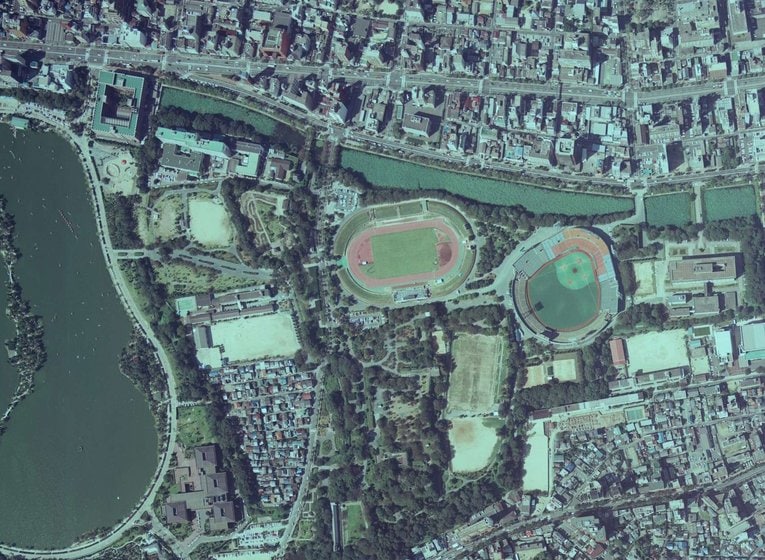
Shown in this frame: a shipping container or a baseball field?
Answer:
baseball field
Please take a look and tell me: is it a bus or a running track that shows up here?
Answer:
running track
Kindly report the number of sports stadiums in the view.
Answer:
2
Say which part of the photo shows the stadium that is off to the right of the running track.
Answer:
right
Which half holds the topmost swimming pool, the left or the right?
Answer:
left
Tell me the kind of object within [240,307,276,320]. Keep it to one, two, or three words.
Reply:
building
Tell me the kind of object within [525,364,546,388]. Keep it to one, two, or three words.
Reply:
tennis court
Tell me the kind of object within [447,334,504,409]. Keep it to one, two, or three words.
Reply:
sports field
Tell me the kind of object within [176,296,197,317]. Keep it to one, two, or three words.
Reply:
swimming pool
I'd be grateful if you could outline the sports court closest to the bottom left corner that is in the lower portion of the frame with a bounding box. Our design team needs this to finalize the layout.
[197,346,222,368]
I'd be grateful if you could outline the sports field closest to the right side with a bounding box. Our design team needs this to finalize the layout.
[627,329,690,376]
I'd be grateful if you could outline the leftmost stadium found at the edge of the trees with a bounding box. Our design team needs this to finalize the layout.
[327,198,481,306]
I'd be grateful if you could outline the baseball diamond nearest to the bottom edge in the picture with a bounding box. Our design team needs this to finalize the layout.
[450,417,506,471]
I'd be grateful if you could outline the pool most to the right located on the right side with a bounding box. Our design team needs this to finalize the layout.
[687,326,713,339]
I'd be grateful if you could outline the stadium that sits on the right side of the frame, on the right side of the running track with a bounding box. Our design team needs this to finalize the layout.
[512,225,619,343]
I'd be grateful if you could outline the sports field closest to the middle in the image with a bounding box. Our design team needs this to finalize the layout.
[355,225,453,279]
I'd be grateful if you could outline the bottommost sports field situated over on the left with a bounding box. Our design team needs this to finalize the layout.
[211,311,300,363]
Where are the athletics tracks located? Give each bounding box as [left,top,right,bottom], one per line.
[348,219,460,285]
